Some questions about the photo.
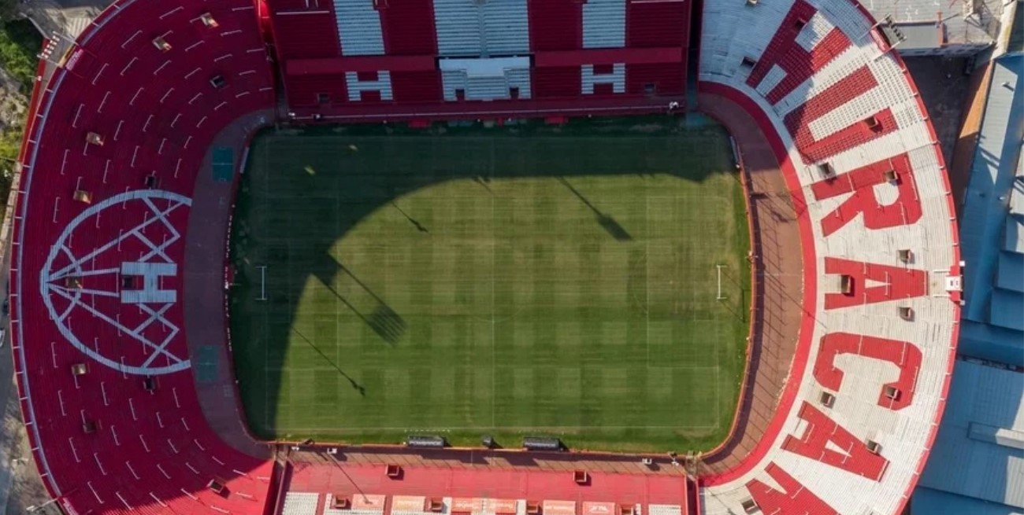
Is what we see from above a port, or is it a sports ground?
sports ground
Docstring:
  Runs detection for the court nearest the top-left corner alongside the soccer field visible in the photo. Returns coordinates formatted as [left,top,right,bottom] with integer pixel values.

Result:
[213,147,233,181]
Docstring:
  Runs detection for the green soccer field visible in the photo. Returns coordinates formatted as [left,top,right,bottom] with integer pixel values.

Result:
[226,114,751,457]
